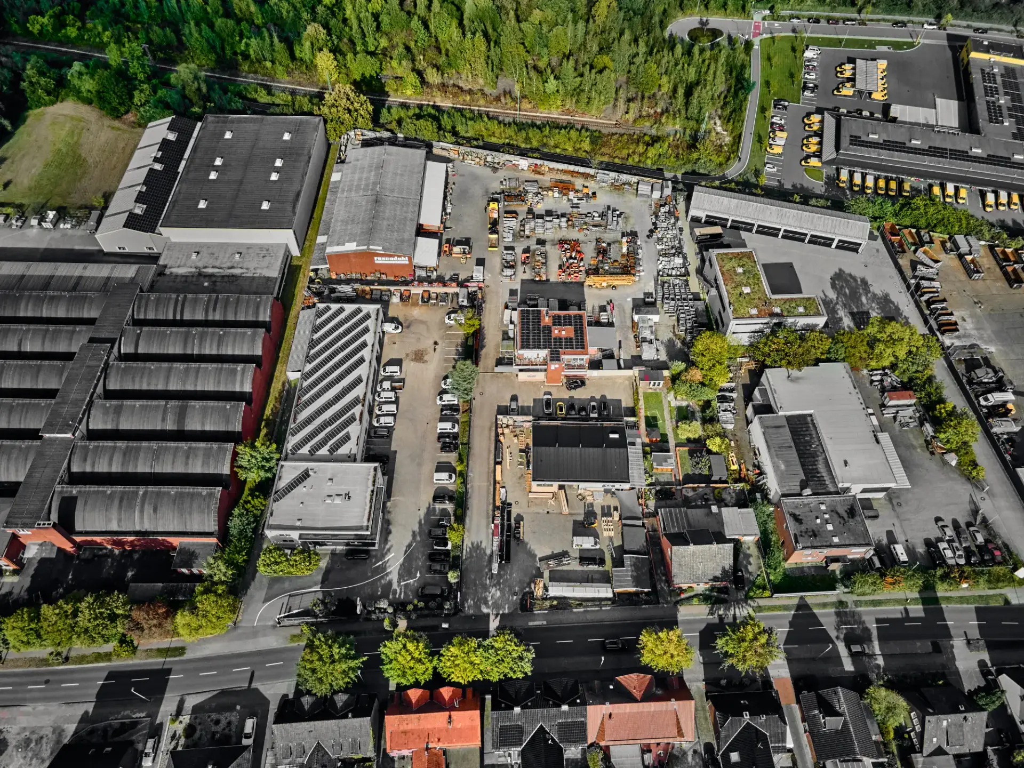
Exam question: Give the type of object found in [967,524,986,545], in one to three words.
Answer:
car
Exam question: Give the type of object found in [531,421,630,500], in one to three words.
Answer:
building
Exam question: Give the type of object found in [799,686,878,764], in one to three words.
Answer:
house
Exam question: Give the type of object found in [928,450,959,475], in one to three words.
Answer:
work vehicle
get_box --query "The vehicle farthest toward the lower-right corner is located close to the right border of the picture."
[985,659,1001,679]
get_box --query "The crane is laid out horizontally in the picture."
[586,270,635,289]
